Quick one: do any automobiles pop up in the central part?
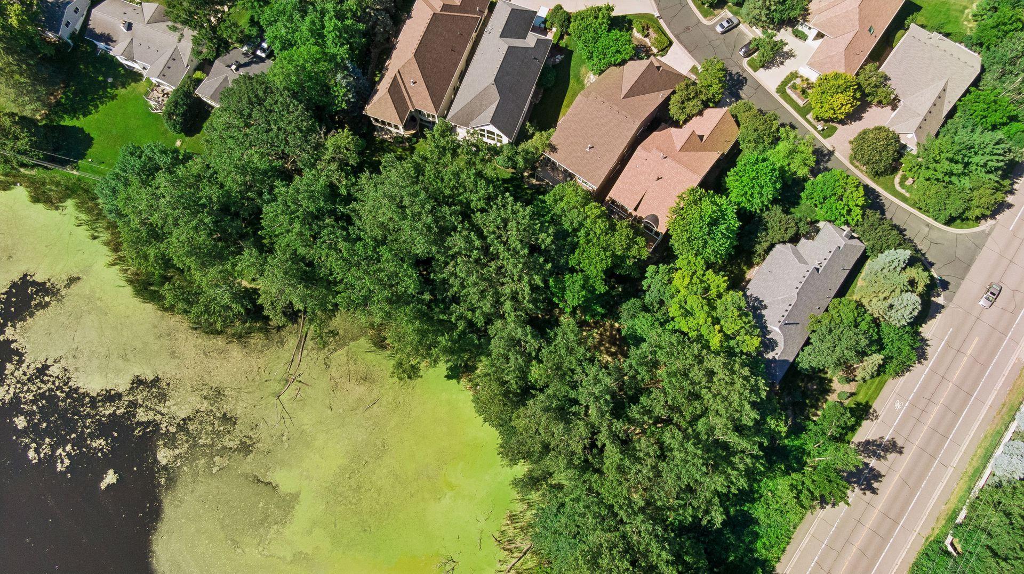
No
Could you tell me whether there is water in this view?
Yes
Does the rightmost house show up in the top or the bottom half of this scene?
top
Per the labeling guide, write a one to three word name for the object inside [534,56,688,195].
house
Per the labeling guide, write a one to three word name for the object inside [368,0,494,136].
house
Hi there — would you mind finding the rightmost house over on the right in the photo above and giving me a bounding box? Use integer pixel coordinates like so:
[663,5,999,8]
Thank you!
[879,23,981,155]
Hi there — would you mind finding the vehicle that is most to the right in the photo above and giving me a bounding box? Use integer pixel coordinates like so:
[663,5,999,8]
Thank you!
[979,282,1002,310]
